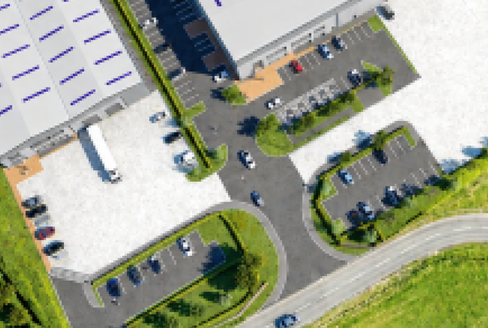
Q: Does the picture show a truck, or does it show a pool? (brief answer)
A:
truck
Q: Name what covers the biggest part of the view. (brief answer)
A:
paved ground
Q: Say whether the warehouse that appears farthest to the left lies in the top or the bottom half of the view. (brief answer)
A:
top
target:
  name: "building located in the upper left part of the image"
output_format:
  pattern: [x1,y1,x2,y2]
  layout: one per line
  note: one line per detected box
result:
[0,0,145,169]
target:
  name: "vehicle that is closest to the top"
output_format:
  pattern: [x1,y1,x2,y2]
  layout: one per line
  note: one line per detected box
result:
[380,0,395,18]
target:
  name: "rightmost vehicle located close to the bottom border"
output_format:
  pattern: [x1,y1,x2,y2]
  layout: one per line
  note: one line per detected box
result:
[275,313,303,328]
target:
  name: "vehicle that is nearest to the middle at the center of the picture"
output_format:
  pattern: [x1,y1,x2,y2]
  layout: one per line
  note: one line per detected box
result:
[242,151,256,169]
